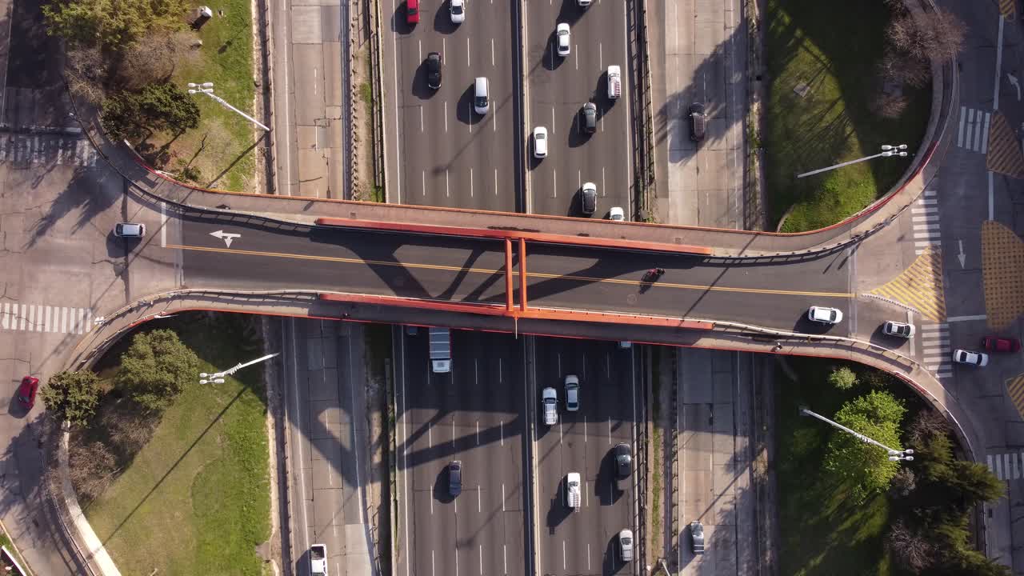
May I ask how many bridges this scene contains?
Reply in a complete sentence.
The count comes to 1 bridge.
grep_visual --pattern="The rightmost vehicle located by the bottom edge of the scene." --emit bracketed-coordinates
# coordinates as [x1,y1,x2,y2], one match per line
[689,521,706,555]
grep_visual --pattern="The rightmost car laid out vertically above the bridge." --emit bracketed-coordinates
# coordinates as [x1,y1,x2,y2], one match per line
[689,103,706,140]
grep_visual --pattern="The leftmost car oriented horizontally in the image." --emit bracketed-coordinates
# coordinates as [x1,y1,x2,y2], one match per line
[113,222,147,238]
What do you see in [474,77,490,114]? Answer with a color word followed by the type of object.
white vehicle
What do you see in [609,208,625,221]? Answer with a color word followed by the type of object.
white vehicle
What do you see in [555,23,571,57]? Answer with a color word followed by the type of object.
white car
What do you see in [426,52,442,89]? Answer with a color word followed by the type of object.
black car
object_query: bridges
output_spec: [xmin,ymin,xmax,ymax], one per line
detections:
[165,184,856,361]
